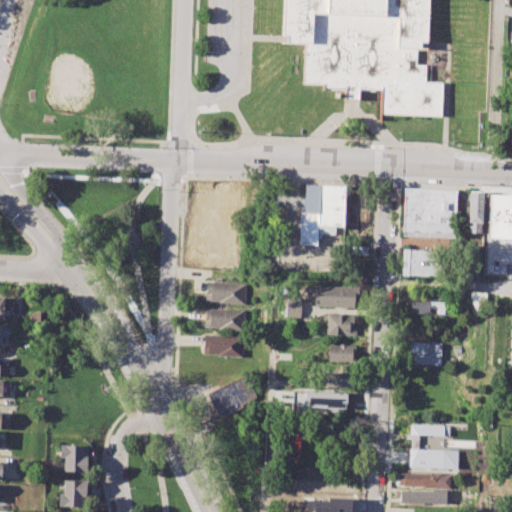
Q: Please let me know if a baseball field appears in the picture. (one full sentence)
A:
Yes, you can see a baseball field in this photo.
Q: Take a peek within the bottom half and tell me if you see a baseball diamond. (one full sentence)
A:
No, within the bottom half there is no baseball diamond.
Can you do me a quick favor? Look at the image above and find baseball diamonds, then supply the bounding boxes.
[46,52,112,118]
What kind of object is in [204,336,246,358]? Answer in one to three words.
house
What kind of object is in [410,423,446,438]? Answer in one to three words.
building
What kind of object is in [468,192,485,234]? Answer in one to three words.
building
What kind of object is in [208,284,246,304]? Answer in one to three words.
house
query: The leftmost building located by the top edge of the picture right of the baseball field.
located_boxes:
[282,0,444,118]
